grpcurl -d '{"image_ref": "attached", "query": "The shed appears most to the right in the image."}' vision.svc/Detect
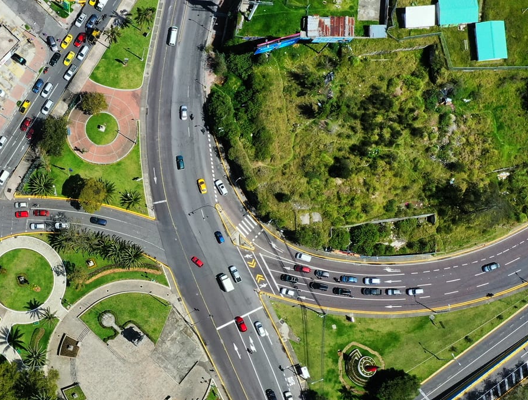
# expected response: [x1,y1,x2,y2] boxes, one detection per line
[468,20,507,64]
